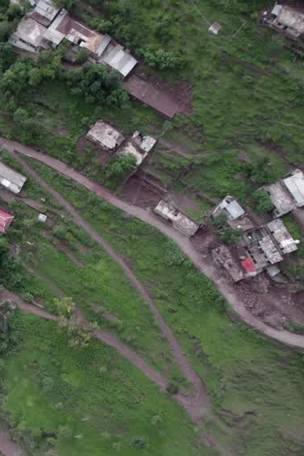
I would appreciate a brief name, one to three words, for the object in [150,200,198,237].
house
